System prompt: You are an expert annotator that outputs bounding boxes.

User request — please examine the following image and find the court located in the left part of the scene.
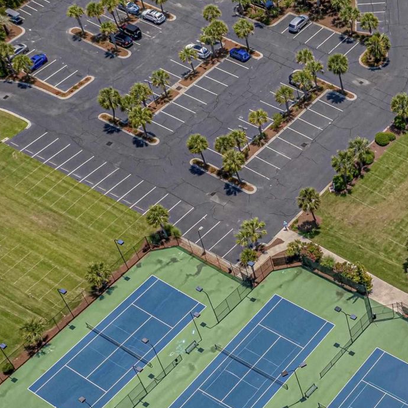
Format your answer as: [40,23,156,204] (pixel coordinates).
[0,246,253,408]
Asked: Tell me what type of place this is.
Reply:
sports ground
